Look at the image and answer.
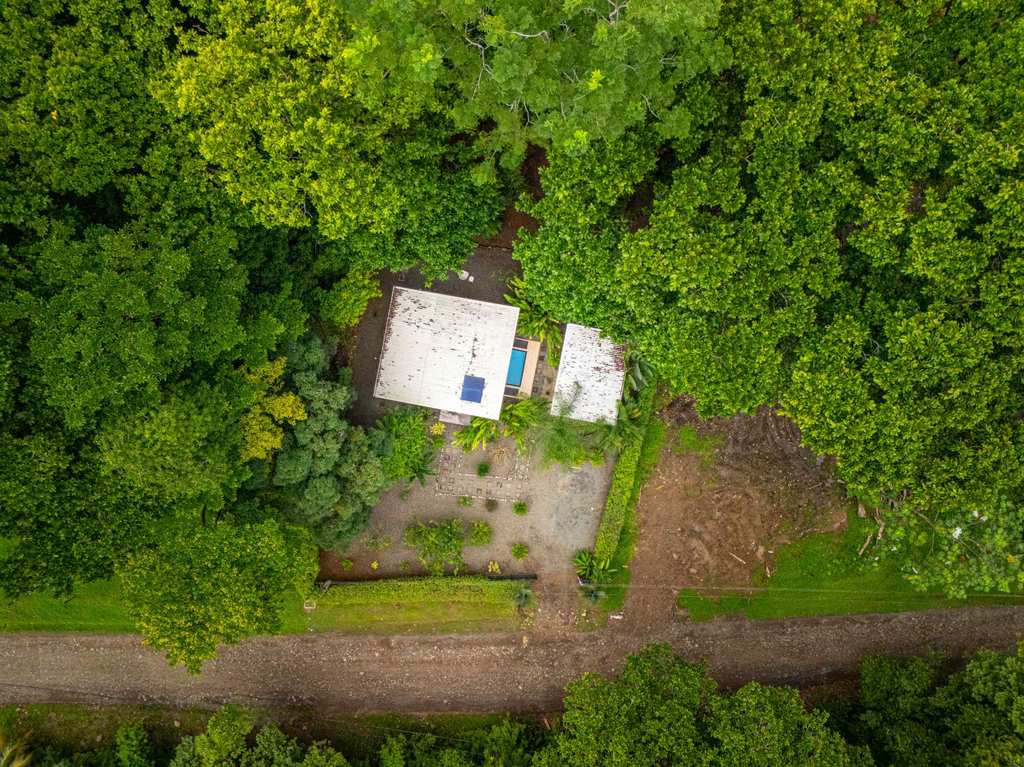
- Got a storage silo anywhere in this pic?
No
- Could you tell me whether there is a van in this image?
No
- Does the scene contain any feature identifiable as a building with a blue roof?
No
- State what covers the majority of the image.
trees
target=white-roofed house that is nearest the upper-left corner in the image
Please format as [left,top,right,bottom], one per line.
[372,286,520,421]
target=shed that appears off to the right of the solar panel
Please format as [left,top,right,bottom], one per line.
[551,324,634,426]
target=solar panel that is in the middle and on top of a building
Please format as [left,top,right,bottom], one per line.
[460,374,485,403]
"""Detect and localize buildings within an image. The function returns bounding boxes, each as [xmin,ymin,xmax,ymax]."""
[551,324,634,426]
[372,286,520,421]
